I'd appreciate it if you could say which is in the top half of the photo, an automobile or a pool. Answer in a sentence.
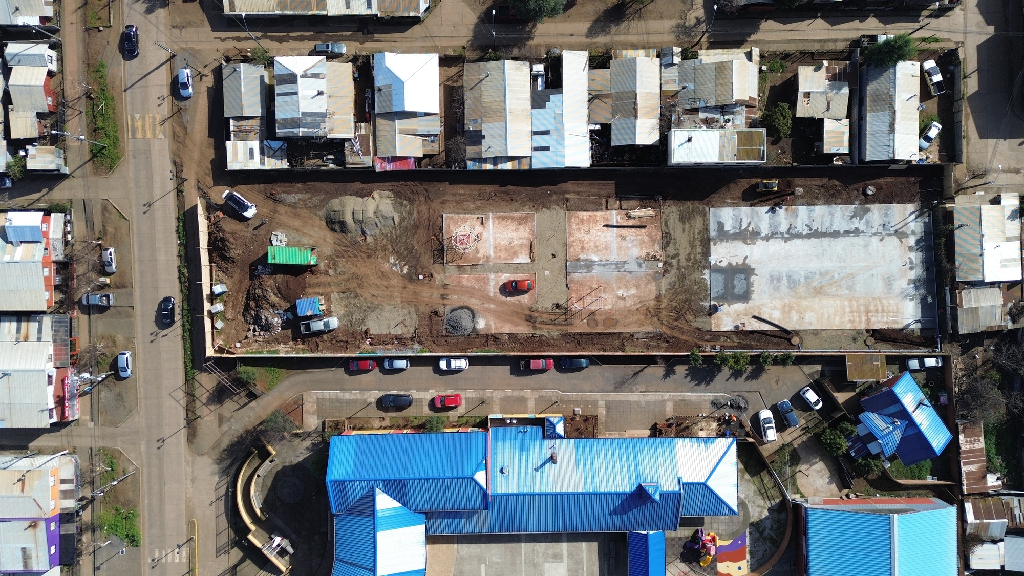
There is an automobile in the top half of the photo.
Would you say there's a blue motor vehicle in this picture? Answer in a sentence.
Yes, looking at the shot, I can spot a blue motor vehicle.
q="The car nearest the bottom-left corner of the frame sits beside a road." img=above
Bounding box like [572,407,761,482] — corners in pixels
[116,349,135,378]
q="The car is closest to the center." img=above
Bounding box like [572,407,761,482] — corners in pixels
[505,278,535,294]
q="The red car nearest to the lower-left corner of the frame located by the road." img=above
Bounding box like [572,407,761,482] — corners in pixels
[350,357,378,373]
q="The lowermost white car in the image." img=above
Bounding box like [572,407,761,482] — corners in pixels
[758,408,777,443]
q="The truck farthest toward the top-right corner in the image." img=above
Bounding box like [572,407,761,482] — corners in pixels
[921,59,947,98]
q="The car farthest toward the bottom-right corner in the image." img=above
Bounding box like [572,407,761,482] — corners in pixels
[904,355,943,370]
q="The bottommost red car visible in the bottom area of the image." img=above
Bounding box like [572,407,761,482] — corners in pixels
[434,393,462,410]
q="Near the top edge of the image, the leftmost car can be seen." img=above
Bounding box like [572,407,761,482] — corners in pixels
[122,25,142,57]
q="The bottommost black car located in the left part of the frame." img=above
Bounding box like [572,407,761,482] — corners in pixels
[382,392,413,409]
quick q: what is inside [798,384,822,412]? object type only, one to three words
car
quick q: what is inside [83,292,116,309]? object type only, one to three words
vehicle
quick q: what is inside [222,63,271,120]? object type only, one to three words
house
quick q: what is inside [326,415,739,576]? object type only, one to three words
building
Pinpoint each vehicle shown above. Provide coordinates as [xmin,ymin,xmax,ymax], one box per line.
[904,355,943,370]
[222,189,256,218]
[919,119,942,150]
[382,392,413,409]
[434,393,462,410]
[159,296,177,326]
[116,349,135,378]
[755,178,781,193]
[560,356,590,371]
[505,278,535,294]
[101,246,119,274]
[350,357,378,373]
[758,408,777,443]
[439,356,469,372]
[122,25,142,57]
[520,356,554,373]
[798,384,822,412]
[298,316,339,335]
[777,398,800,429]
[178,68,196,98]
[384,356,411,372]
[83,292,116,309]
[921,59,947,98]
[314,40,347,58]
[530,60,547,90]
